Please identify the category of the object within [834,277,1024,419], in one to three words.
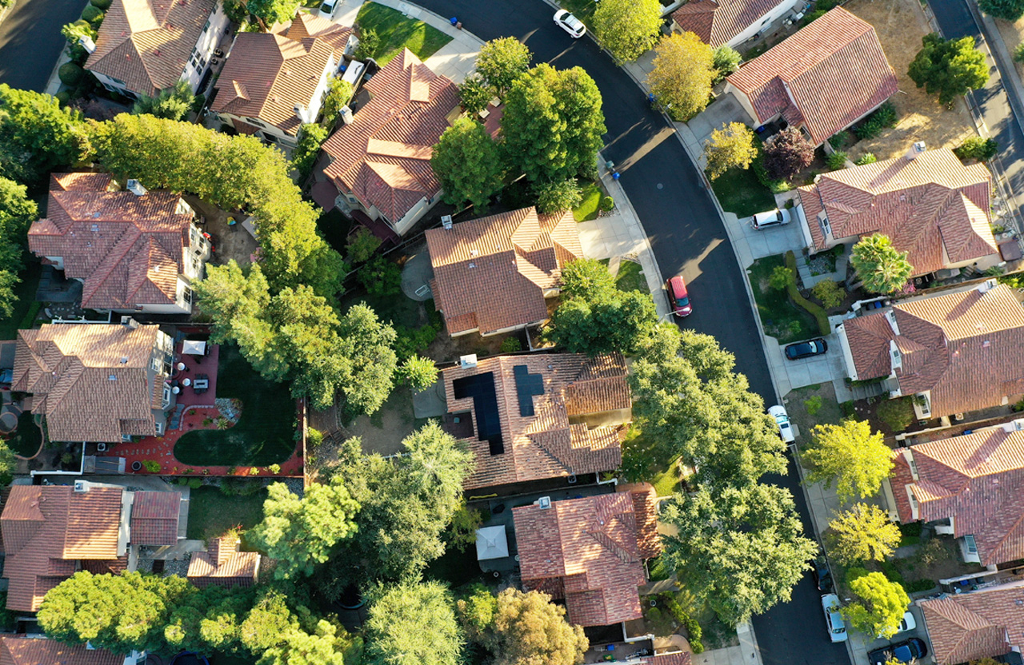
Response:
house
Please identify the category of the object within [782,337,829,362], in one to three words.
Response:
car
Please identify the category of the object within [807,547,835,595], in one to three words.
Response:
car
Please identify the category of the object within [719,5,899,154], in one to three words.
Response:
house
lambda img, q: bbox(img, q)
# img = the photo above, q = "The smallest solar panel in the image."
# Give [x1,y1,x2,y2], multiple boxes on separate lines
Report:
[514,364,545,416]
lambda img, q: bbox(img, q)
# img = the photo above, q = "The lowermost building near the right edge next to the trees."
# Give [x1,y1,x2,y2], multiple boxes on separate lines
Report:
[907,580,1024,665]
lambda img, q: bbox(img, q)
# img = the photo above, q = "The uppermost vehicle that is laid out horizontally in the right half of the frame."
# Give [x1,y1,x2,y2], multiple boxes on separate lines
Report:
[749,205,793,230]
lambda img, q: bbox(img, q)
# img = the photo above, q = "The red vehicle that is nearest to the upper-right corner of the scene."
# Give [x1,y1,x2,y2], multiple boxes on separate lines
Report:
[666,274,693,318]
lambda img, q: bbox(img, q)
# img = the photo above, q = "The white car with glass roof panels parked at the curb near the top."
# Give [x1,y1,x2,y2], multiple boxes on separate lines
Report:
[550,7,587,41]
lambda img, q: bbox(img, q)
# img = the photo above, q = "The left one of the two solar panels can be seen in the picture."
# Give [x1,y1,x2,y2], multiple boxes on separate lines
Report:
[452,372,503,456]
